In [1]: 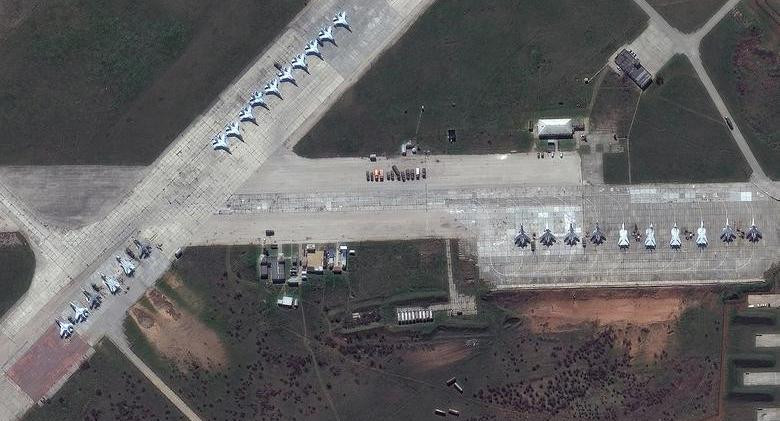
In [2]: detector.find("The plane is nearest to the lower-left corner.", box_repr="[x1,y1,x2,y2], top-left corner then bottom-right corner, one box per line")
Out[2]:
[56,321,76,340]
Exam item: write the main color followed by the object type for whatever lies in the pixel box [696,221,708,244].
white airplane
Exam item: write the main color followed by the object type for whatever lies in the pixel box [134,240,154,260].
gray airplane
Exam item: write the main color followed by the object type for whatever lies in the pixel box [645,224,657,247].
white airplane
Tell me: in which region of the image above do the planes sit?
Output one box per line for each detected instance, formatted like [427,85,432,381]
[590,223,606,246]
[721,219,736,241]
[238,102,257,122]
[303,37,324,57]
[617,223,630,246]
[514,224,530,247]
[277,64,296,82]
[746,218,762,241]
[82,289,103,309]
[696,221,708,244]
[645,224,657,247]
[289,51,309,72]
[248,87,268,105]
[71,304,90,323]
[564,225,579,247]
[101,275,120,293]
[211,131,231,150]
[56,321,76,340]
[117,257,136,276]
[331,10,350,28]
[263,76,281,97]
[134,240,154,260]
[224,119,244,138]
[540,225,555,247]
[318,24,336,43]
[670,225,682,247]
